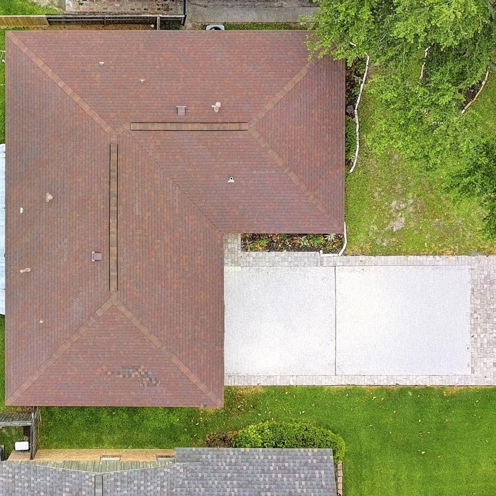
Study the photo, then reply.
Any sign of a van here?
No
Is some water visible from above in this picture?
No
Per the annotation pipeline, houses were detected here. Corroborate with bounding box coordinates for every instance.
[0,443,337,496]
[3,28,347,408]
